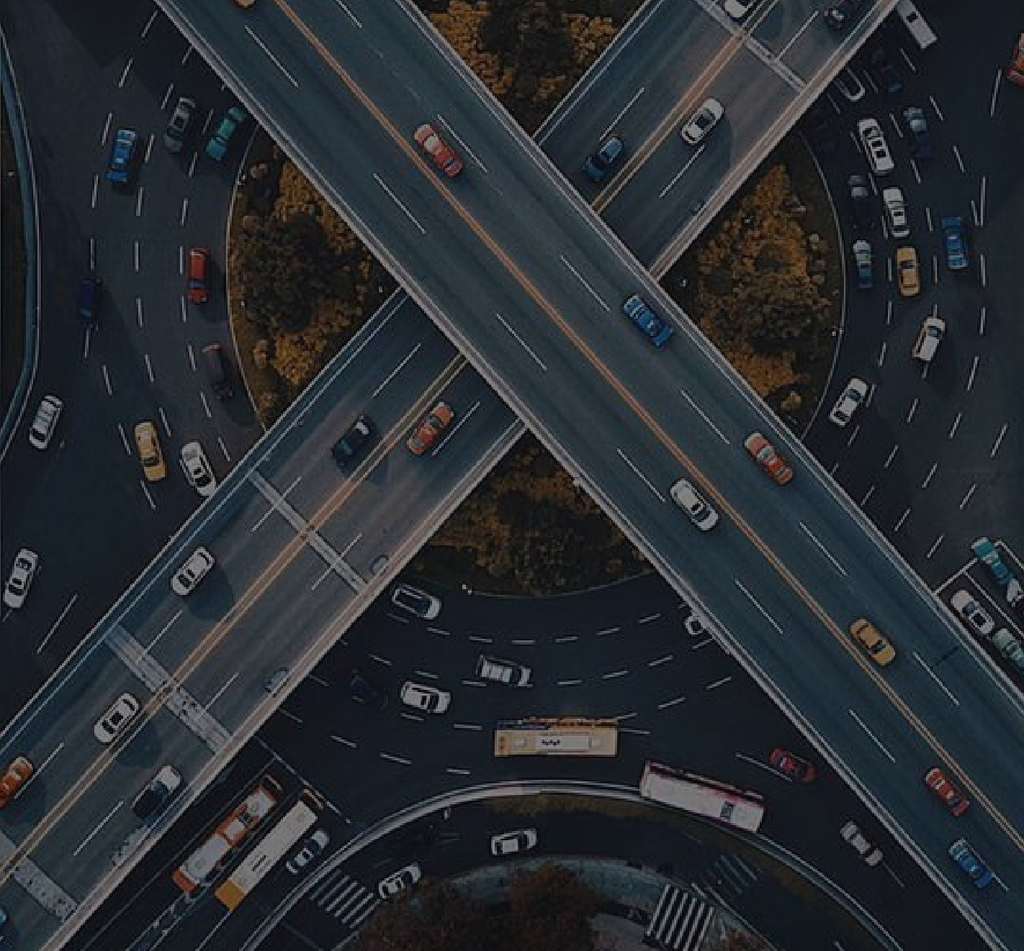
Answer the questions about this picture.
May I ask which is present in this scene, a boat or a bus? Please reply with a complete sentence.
Of the two, only a bus appears.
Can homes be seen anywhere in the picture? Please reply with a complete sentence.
No, there is no home in the image.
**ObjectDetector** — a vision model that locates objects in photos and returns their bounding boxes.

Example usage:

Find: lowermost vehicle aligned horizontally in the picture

[488,825,540,854]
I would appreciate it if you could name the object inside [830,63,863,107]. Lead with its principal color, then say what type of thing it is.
black car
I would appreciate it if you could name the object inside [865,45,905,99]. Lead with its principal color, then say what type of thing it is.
black car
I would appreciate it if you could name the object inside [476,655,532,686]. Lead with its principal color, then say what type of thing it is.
gray car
